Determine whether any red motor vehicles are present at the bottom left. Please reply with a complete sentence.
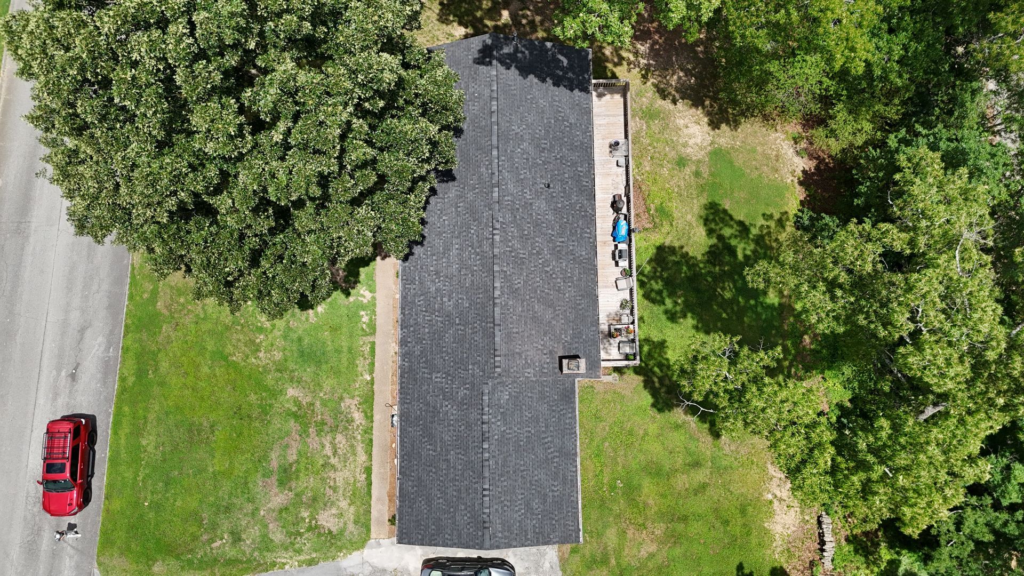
Yes, at the bottom left there is a red motor vehicle.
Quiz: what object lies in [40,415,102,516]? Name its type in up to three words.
car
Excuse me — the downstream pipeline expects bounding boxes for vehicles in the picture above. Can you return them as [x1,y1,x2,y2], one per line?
[40,415,102,516]
[421,559,516,576]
